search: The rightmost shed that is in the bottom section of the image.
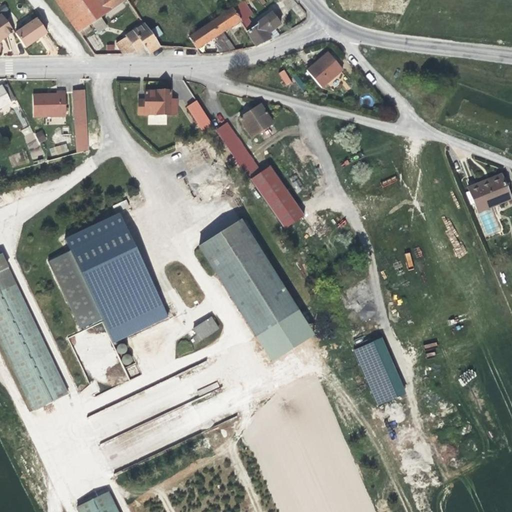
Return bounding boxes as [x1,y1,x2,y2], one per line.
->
[354,338,406,406]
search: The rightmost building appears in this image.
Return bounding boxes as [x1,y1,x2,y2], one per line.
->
[468,172,512,212]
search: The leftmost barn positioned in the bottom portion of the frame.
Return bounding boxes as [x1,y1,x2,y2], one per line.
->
[0,250,68,411]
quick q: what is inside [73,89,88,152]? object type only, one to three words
barn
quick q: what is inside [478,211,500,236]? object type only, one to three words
swimming pool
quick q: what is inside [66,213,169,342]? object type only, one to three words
building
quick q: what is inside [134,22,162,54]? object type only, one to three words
house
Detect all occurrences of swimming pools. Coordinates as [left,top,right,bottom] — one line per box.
[360,93,374,107]
[478,211,500,236]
